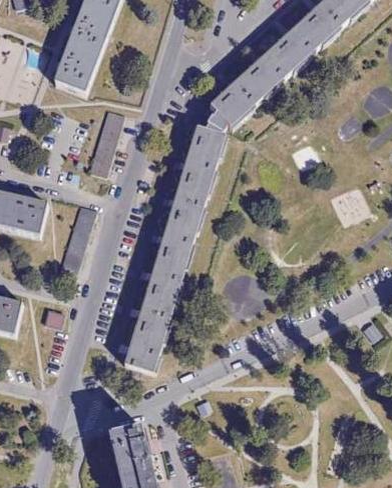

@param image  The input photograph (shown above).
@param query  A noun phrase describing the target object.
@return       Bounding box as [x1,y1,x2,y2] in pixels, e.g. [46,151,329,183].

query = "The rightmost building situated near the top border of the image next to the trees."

[211,0,379,135]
